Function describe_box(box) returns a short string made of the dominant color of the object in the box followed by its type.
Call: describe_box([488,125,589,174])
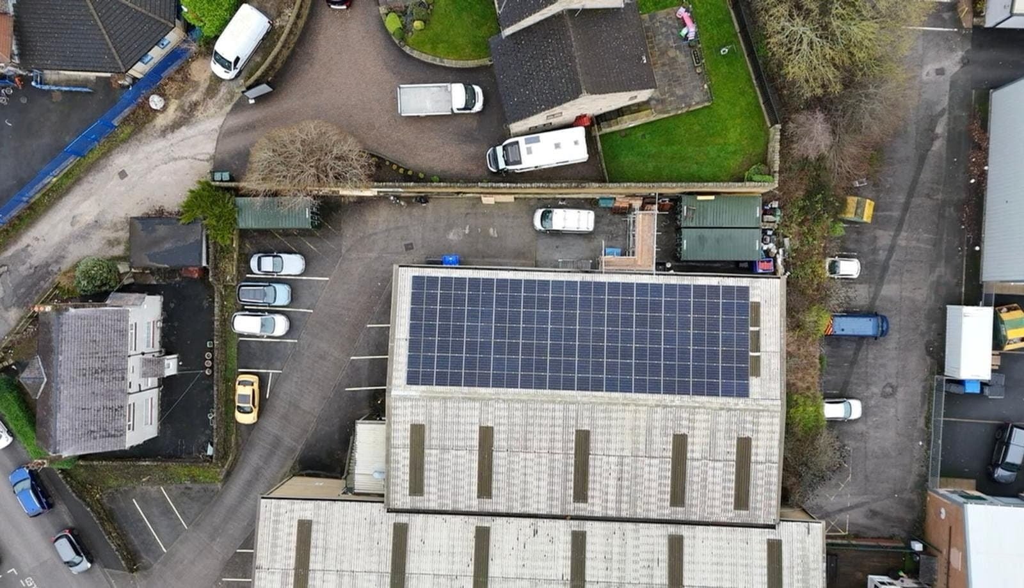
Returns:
white van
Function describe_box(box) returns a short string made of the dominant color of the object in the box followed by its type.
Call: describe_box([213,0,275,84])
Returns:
white van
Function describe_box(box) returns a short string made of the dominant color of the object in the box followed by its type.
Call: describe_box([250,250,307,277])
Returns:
white car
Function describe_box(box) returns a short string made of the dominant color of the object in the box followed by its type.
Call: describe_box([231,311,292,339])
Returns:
white car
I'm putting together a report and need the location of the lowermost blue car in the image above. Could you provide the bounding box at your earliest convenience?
[11,464,57,521]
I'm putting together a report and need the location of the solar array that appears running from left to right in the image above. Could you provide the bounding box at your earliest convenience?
[407,276,750,398]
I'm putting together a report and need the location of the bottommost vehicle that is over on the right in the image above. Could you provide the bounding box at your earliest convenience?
[991,423,1024,482]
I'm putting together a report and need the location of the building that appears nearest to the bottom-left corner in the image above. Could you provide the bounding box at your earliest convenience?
[19,287,181,469]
